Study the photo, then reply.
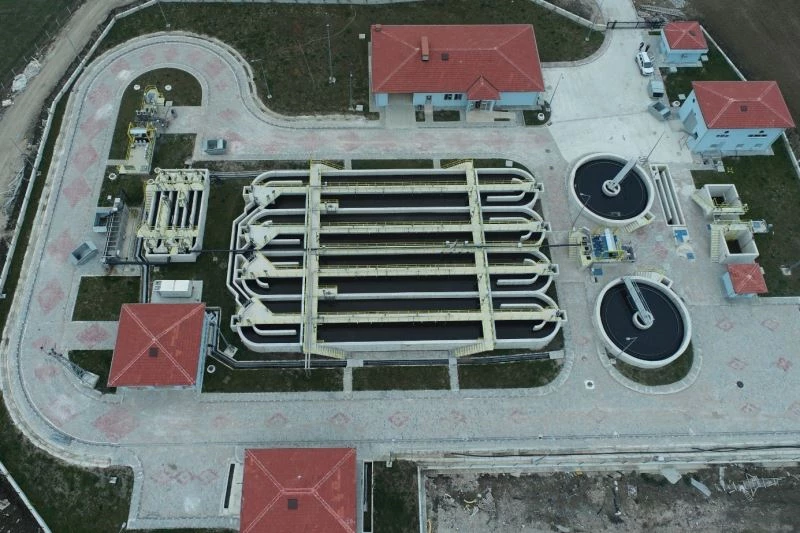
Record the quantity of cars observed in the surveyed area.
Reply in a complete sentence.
Only 1 car is visible.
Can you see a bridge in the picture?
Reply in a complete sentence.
Yes, a bridge is visible in the scene.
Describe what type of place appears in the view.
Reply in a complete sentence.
The picture captures an industrial area.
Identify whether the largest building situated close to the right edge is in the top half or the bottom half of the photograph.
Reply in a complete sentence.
Seen from above, the largest building situated close to the right edge lies in the top half of the view.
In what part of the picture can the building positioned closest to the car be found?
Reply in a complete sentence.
Look in the top right portion of the view to spot the building positioned closest to the car.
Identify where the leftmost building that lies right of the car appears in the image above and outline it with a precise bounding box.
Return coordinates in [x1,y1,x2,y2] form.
[660,21,709,66]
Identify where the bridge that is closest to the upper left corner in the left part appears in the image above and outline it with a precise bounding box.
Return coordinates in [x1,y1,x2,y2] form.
[304,156,320,356]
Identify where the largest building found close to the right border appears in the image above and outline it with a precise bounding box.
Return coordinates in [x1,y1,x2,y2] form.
[677,80,797,156]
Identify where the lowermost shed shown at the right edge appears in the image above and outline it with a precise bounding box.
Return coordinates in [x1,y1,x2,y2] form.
[720,263,770,299]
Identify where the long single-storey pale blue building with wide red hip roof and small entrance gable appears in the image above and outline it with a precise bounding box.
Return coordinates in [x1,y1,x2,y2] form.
[370,23,545,119]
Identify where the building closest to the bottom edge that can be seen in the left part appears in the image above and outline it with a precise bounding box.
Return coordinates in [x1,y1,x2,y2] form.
[238,445,358,533]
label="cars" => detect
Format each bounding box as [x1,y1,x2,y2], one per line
[640,53,661,76]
